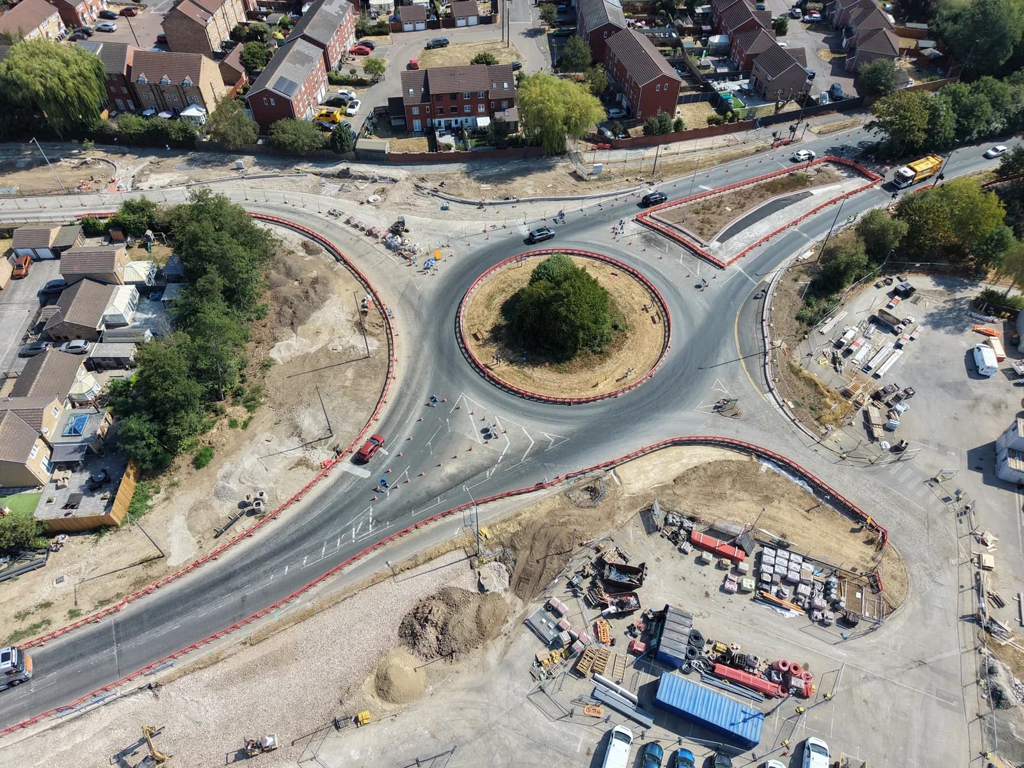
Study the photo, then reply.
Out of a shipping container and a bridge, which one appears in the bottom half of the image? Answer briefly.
shipping container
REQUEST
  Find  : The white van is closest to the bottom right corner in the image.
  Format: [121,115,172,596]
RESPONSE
[801,732,832,768]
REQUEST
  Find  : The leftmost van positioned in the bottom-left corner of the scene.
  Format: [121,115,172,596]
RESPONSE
[0,651,39,688]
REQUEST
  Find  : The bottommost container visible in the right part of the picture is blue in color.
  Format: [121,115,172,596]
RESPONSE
[649,673,765,749]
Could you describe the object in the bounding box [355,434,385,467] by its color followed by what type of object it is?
red car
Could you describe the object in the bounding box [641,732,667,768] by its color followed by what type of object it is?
blue car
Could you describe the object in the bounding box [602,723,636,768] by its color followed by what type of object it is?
white van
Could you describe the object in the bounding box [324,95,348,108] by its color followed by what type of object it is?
black vehicle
